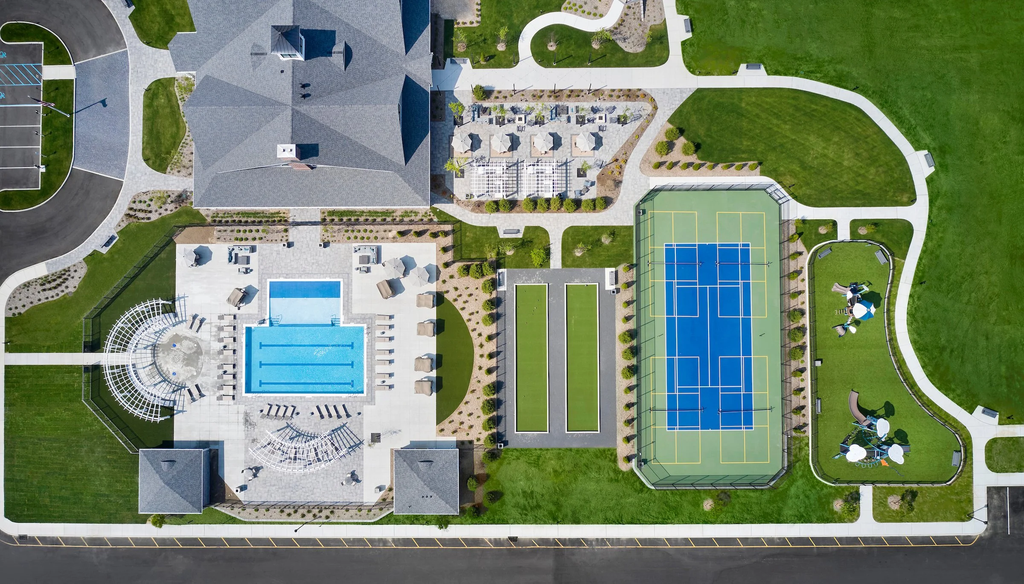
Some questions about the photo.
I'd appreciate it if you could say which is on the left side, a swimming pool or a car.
swimming pool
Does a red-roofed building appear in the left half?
No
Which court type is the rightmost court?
tennis court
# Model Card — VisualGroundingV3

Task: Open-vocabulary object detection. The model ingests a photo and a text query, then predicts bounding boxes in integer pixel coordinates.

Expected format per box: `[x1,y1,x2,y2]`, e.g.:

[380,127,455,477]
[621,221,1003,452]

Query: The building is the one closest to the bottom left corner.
[139,447,209,514]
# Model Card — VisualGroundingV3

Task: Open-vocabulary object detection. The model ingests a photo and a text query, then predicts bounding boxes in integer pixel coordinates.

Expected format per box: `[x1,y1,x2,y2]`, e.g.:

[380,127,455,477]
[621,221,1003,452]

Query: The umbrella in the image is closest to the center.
[408,266,435,289]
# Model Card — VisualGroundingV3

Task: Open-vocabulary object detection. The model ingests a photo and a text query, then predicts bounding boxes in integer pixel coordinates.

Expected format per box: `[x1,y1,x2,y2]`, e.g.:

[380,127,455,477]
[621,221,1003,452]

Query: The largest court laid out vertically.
[633,189,784,487]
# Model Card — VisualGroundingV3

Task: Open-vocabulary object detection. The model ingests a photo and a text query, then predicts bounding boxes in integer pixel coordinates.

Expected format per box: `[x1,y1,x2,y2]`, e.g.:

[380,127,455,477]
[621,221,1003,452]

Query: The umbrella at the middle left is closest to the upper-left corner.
[177,246,198,266]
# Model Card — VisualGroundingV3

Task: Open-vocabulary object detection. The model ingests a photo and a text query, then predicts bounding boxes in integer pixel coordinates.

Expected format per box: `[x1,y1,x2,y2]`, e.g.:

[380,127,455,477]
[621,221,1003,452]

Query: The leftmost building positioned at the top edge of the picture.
[166,0,436,209]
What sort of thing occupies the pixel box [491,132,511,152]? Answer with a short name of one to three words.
umbrella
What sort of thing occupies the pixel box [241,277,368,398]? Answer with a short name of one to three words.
swimming pool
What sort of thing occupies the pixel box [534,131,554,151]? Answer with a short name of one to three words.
umbrella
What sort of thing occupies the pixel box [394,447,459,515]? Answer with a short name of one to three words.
building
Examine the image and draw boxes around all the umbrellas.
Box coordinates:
[408,266,435,289]
[382,258,405,278]
[177,246,198,266]
[491,132,511,152]
[534,131,554,151]
[575,131,596,151]
[451,132,472,152]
